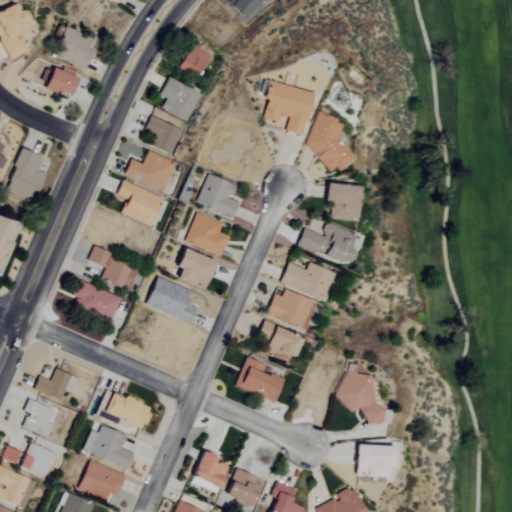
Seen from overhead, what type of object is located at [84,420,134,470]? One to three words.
house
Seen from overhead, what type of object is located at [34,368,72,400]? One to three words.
house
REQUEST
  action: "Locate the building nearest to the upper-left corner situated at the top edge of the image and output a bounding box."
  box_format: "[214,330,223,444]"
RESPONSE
[0,2,38,61]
